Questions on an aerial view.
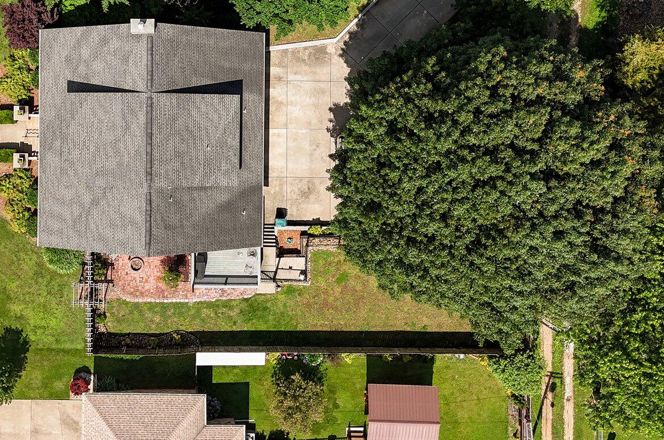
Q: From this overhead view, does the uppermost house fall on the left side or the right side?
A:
left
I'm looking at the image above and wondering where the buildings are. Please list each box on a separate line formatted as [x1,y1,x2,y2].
[363,380,440,440]
[81,385,246,440]
[37,19,266,258]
